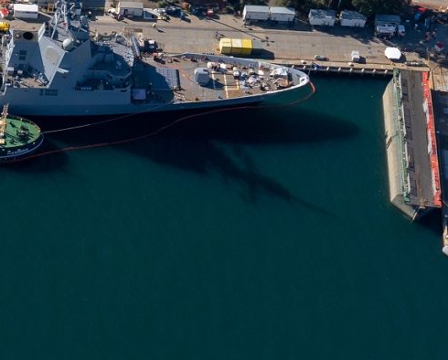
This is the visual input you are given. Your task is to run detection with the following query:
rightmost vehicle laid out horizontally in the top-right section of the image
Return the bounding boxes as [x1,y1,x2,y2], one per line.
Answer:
[374,21,408,36]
